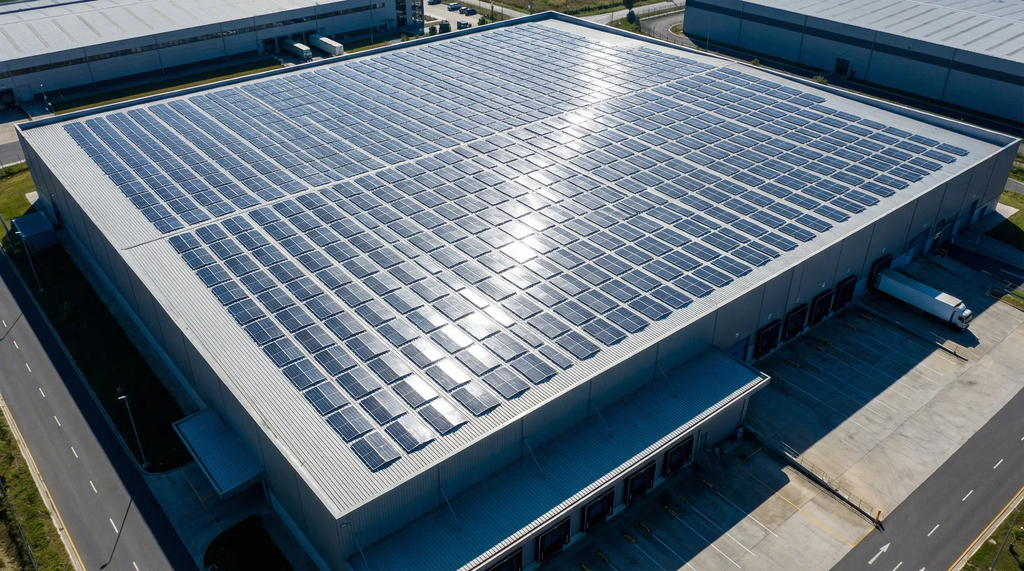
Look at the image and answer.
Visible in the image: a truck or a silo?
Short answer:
truck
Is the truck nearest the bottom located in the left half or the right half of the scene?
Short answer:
right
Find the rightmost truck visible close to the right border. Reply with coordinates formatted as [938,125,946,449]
[871,266,974,335]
